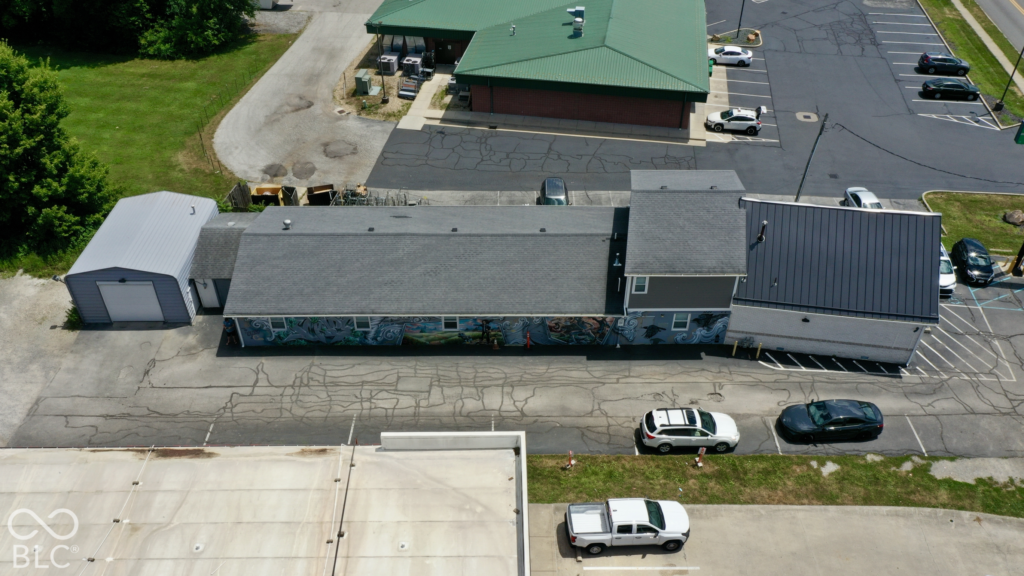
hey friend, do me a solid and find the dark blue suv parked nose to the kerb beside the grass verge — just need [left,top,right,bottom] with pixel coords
[918,50,975,75]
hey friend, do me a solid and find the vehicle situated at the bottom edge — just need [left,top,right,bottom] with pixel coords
[562,495,698,555]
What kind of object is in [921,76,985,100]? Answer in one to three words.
car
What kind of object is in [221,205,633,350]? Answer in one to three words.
building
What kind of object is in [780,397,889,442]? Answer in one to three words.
car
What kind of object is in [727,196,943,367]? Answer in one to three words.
building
